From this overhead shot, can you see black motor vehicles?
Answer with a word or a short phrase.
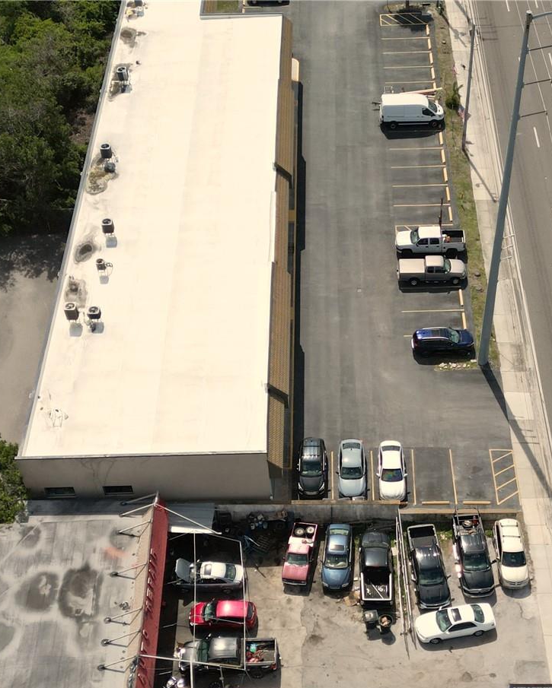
Yes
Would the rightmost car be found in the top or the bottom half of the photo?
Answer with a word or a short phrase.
bottom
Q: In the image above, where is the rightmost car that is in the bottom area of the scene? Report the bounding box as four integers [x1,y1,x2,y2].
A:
[493,520,533,588]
